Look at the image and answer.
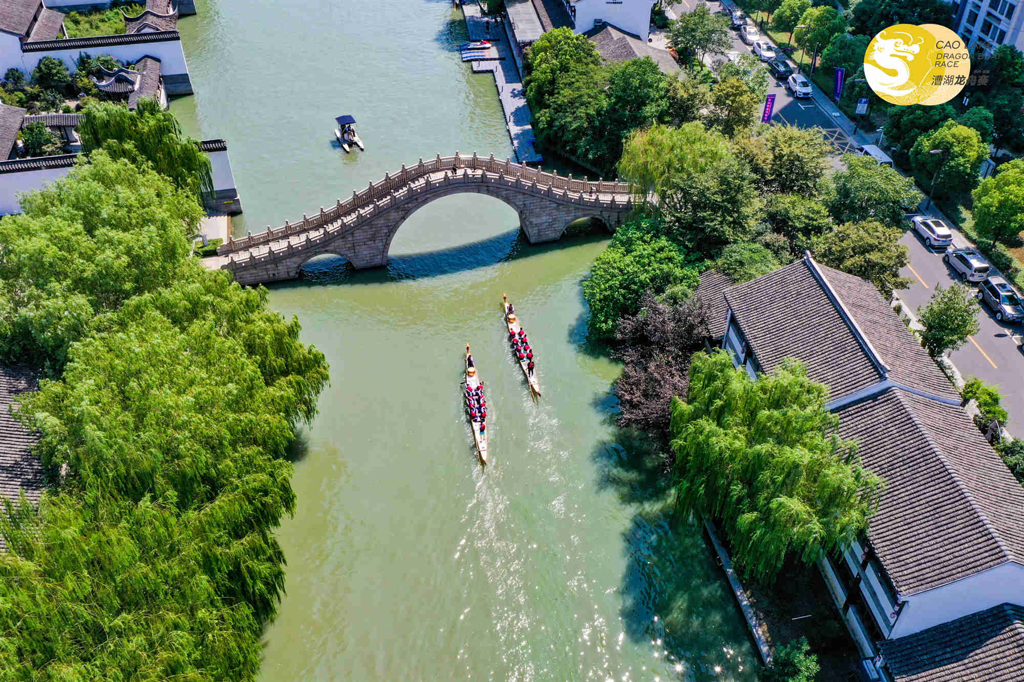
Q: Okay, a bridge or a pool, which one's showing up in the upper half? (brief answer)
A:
bridge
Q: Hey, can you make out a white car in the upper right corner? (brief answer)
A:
Yes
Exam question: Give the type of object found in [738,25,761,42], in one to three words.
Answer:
car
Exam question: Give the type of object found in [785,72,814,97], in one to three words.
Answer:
car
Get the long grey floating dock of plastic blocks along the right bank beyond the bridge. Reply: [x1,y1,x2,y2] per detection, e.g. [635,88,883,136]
[458,0,541,164]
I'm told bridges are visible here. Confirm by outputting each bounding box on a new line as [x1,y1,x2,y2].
[213,147,644,285]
